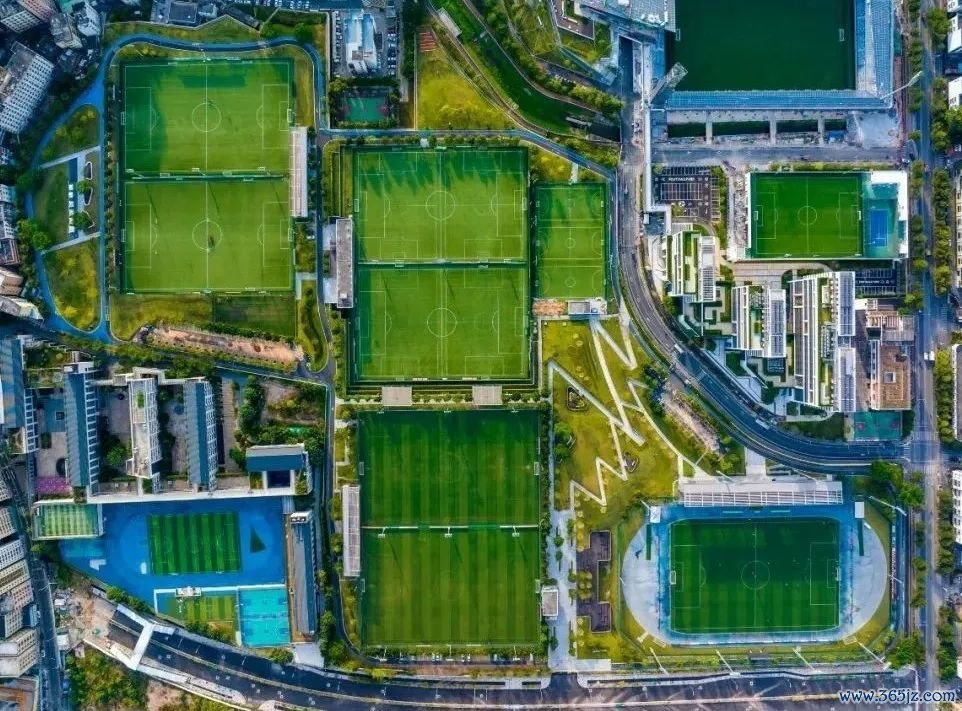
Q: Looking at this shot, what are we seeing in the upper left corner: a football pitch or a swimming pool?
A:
football pitch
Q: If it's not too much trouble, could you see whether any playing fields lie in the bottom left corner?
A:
Yes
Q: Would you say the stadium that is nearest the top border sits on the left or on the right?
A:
right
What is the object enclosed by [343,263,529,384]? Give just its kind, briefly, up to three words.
soccer field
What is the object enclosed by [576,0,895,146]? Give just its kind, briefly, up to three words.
stadium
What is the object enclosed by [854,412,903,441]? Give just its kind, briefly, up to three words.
basketball court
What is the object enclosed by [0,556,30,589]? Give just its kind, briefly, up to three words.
building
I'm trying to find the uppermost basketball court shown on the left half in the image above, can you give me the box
[345,97,387,121]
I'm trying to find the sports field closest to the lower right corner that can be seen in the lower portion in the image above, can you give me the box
[622,495,888,646]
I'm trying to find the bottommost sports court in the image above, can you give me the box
[239,587,290,646]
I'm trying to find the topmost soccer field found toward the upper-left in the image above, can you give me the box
[118,54,297,178]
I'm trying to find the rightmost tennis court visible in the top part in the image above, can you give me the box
[862,172,904,255]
